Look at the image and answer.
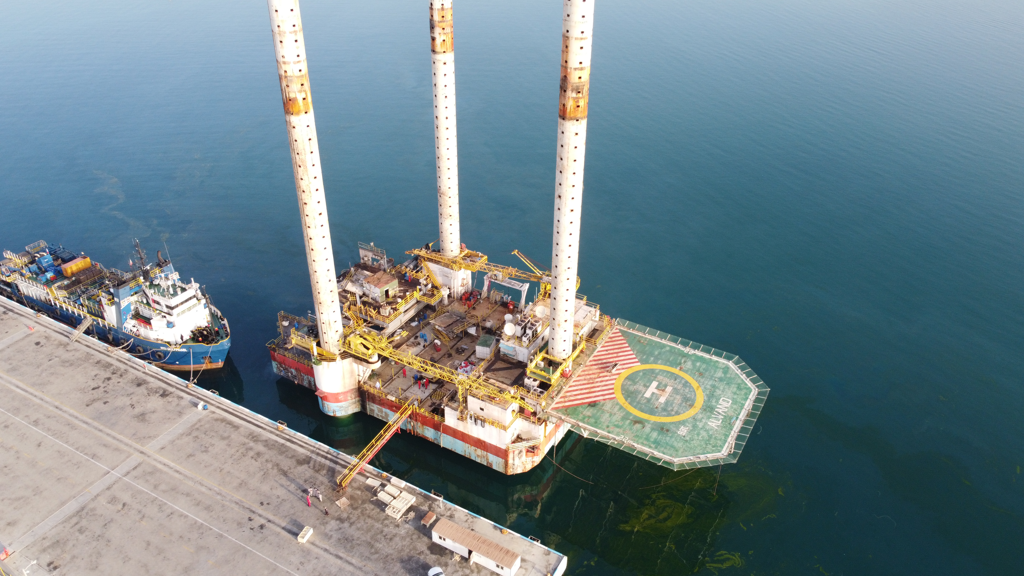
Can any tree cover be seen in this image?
No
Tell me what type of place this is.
port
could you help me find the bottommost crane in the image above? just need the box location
[341,315,537,433]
